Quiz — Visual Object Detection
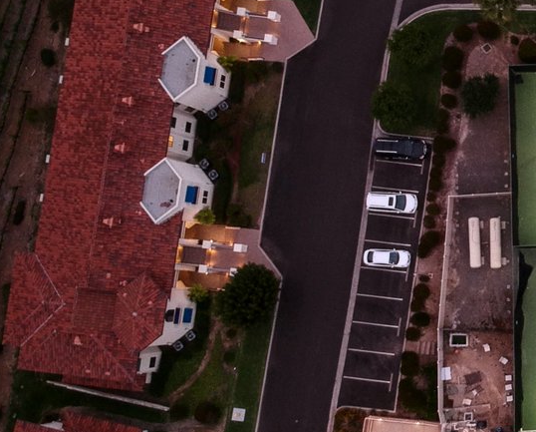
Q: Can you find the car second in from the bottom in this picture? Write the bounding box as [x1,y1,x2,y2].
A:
[368,191,416,215]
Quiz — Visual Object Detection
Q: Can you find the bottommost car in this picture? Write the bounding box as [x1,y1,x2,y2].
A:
[364,248,411,270]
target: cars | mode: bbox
[364,248,411,270]
[368,191,416,215]
[377,137,425,159]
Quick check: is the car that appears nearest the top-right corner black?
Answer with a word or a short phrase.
Yes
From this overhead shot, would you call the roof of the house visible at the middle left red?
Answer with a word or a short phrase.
Yes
